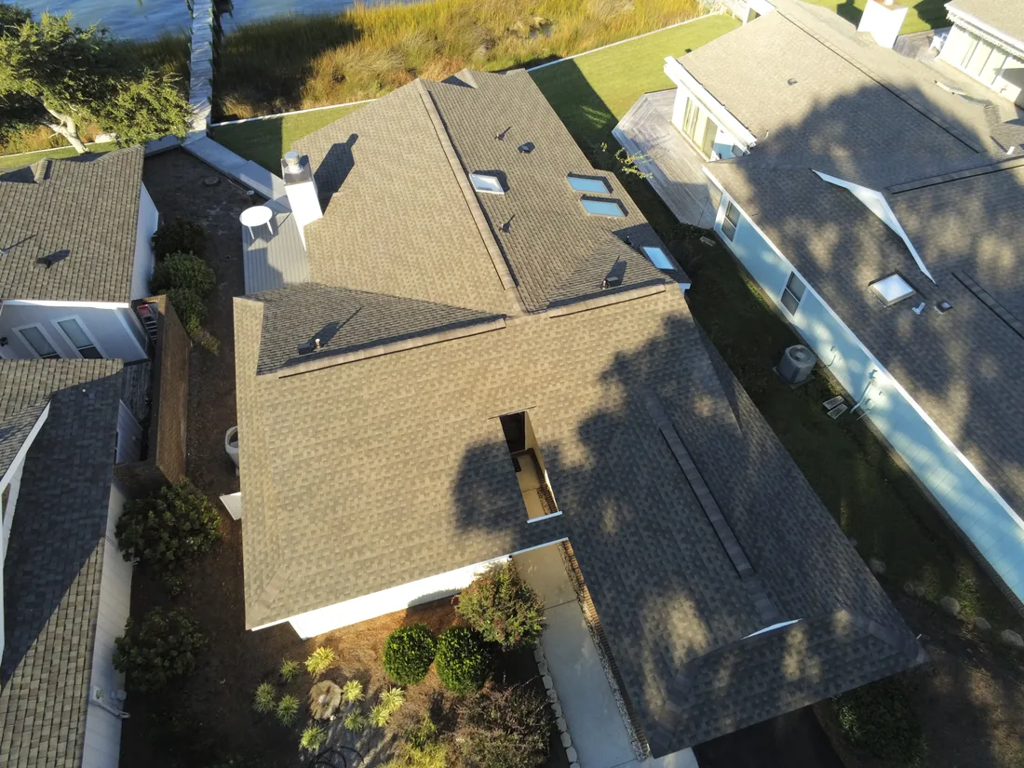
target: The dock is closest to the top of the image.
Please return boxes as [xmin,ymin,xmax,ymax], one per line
[174,0,220,143]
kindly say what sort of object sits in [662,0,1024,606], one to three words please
house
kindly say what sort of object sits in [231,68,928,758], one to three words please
house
